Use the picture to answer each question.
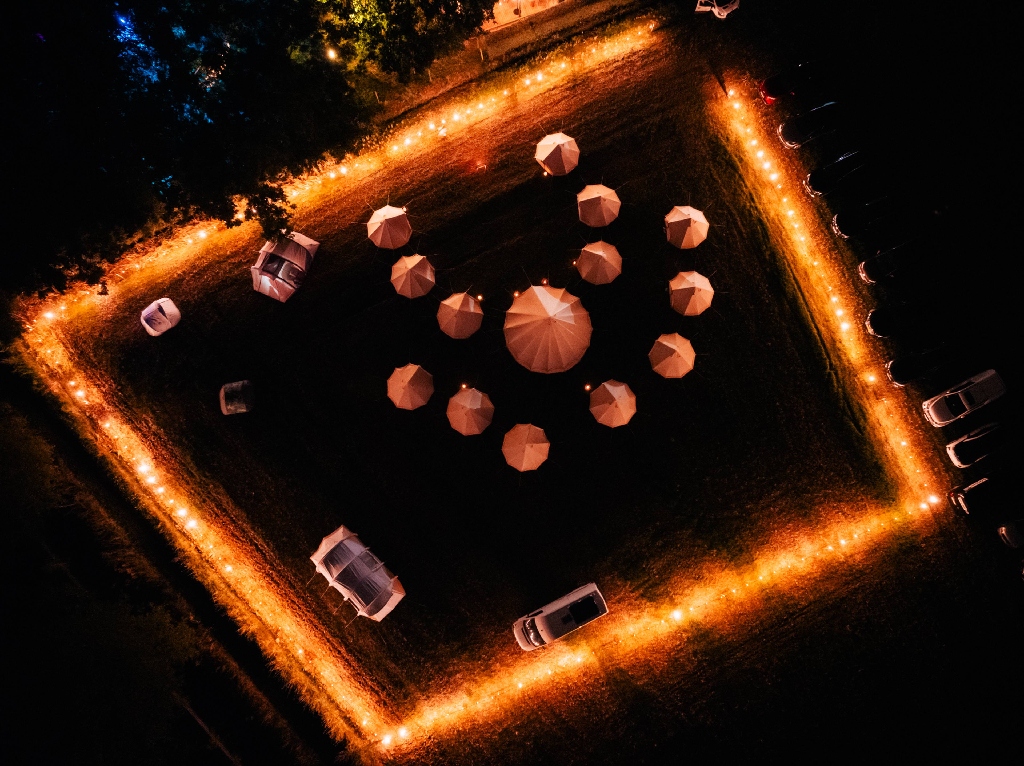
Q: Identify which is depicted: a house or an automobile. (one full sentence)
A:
There is an automobile in the scene.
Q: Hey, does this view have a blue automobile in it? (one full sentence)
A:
No, the scene contains no blue automobile.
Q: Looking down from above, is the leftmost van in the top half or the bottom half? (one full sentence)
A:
You can find the leftmost van in the bottom half.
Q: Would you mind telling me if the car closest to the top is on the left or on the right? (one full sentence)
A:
It is on the right.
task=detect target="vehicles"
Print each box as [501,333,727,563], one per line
[853,235,926,285]
[942,463,1020,516]
[945,421,1020,469]
[995,511,1024,550]
[800,147,872,198]
[882,336,951,384]
[862,289,927,336]
[697,0,742,20]
[756,62,818,107]
[513,584,612,652]
[921,372,1006,427]
[772,100,842,148]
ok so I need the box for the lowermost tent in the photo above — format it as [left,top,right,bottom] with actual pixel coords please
[306,523,405,626]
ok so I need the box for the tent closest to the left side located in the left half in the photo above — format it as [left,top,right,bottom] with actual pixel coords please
[137,298,182,338]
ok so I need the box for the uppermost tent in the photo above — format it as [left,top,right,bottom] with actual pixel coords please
[527,124,584,185]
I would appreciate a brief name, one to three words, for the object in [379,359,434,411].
tent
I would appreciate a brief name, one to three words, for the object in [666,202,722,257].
tent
